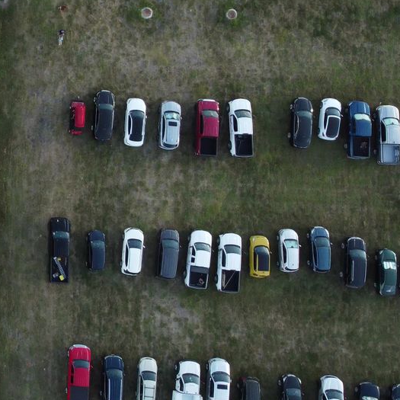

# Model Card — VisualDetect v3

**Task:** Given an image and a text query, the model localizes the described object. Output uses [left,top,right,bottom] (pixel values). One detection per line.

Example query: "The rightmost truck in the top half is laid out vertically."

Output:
[373,105,400,165]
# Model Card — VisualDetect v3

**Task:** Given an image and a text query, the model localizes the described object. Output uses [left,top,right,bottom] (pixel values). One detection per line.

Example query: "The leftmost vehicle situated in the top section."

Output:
[67,100,88,137]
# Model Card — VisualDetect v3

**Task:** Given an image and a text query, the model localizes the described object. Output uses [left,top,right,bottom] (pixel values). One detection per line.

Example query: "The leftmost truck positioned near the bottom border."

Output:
[65,343,94,400]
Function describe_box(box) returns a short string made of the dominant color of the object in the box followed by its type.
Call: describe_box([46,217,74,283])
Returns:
black truck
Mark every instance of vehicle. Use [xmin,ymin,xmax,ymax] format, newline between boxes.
[175,360,204,400]
[67,100,88,137]
[317,374,346,400]
[119,227,146,276]
[305,225,335,273]
[85,230,110,270]
[65,343,94,400]
[46,217,74,283]
[133,356,161,400]
[100,354,127,400]
[193,99,223,158]
[246,235,273,279]
[90,90,119,140]
[288,98,315,148]
[343,101,374,161]
[355,382,383,400]
[156,101,185,150]
[226,99,256,158]
[276,373,306,400]
[121,98,149,146]
[340,236,370,289]
[274,229,301,273]
[214,232,245,294]
[183,229,215,290]
[373,248,400,296]
[155,227,182,280]
[373,105,400,165]
[237,375,265,400]
[204,356,233,400]
[315,98,344,142]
